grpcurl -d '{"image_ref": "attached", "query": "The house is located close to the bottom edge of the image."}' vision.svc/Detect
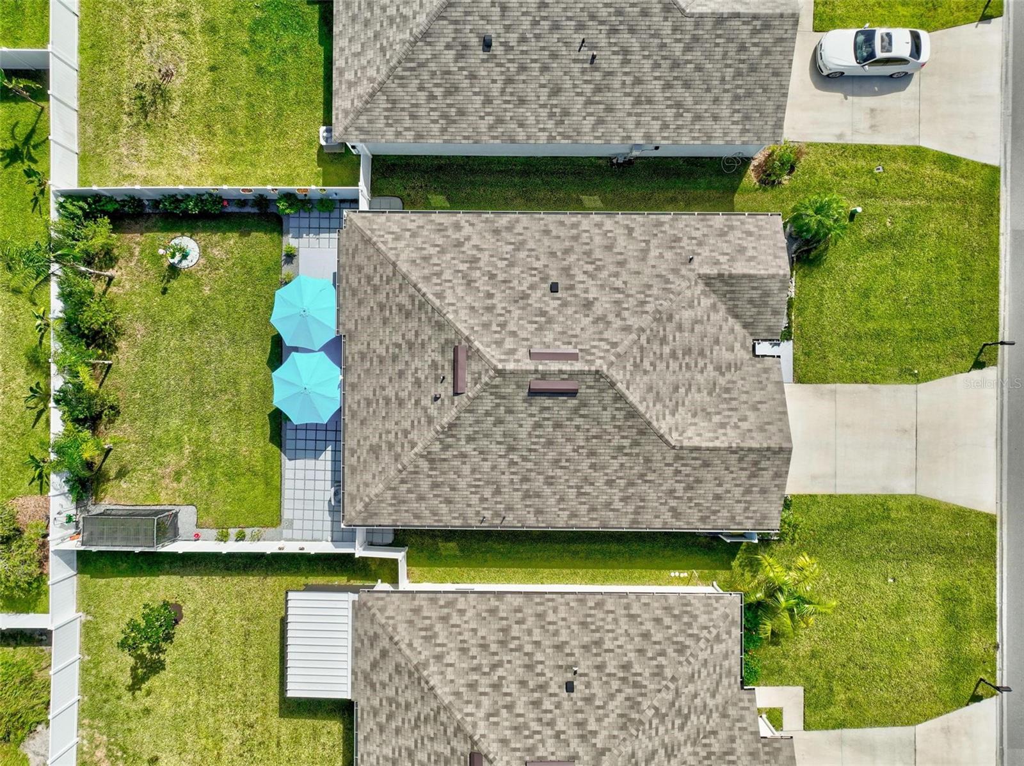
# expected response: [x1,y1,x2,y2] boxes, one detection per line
[349,577,795,766]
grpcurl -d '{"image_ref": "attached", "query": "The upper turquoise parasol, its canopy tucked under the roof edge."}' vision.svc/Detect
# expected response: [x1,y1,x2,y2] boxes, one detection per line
[270,276,339,351]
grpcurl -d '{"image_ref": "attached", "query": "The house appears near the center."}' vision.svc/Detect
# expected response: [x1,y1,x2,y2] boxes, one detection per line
[335,209,794,531]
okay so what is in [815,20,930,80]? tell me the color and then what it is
white car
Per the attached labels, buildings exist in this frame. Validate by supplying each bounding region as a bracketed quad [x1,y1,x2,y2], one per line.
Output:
[335,209,794,531]
[349,577,795,766]
[330,0,802,161]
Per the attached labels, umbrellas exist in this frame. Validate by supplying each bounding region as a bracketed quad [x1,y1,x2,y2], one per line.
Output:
[274,353,342,424]
[270,276,339,351]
